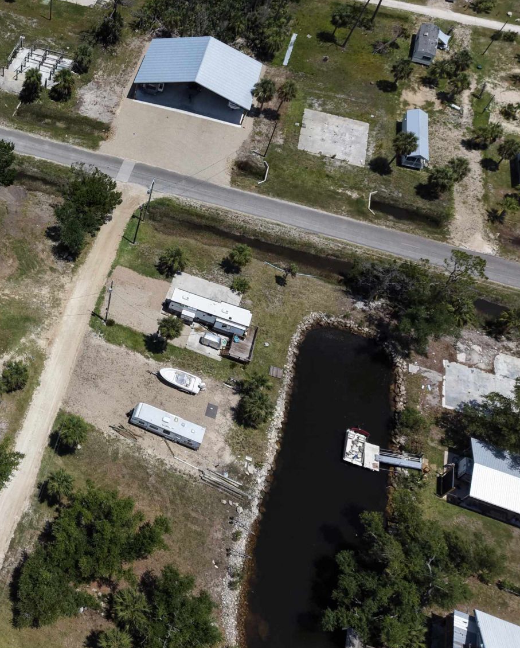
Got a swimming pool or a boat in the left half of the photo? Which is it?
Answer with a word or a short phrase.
boat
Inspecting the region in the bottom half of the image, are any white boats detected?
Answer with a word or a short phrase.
Yes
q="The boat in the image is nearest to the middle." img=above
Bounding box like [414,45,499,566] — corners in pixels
[148,369,206,397]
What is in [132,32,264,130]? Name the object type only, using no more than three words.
building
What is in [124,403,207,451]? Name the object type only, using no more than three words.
vehicle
